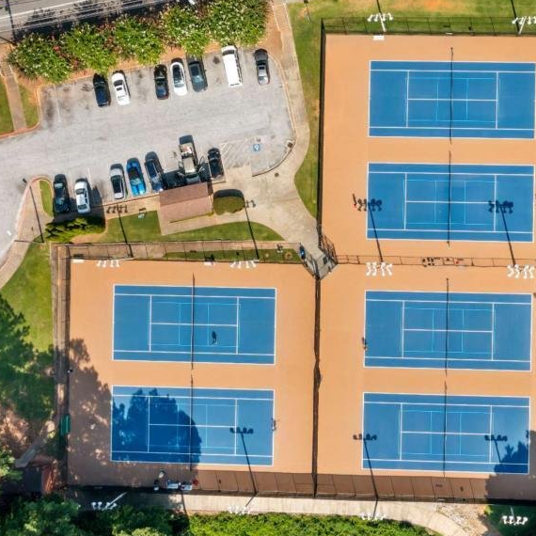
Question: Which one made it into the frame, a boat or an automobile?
automobile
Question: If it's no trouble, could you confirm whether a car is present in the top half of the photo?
Yes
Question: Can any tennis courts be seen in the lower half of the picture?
Yes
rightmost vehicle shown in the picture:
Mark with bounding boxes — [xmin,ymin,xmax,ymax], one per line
[254,50,270,85]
